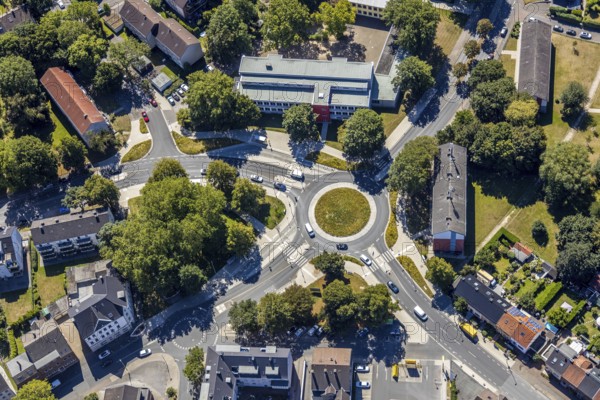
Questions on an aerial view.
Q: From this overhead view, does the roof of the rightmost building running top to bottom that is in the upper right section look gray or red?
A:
gray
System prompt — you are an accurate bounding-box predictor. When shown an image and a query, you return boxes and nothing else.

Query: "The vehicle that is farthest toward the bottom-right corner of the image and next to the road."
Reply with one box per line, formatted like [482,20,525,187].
[458,317,479,339]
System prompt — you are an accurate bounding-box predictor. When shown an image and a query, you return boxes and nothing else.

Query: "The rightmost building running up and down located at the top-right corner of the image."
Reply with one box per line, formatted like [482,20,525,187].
[510,23,549,120]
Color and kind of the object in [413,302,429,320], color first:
white vehicle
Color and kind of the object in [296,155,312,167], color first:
blue vehicle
